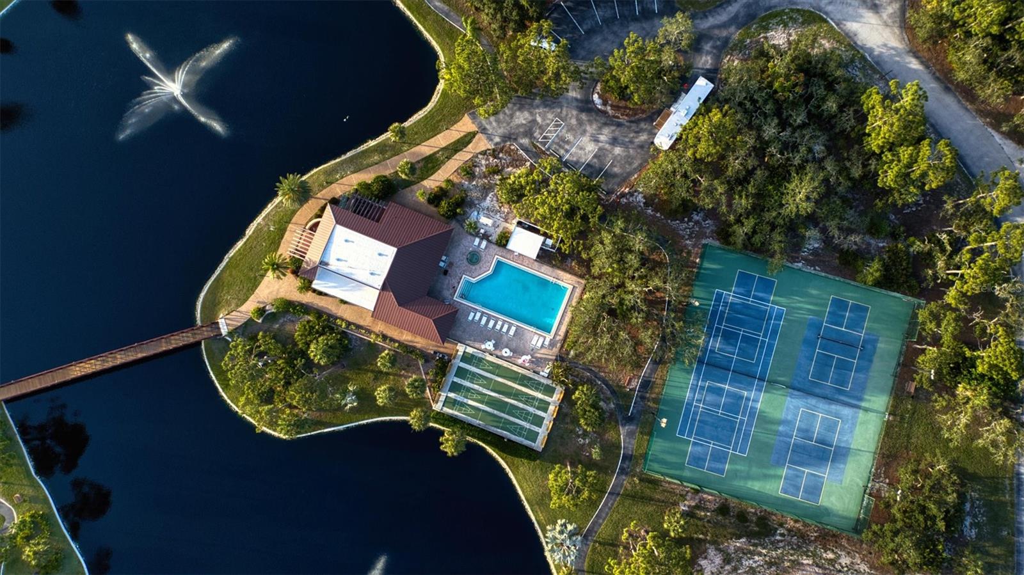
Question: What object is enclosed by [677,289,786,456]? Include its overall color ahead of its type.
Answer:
blue tennis court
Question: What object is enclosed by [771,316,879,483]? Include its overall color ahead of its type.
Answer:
blue tennis court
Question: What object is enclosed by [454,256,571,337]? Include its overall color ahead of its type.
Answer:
blue swimming pool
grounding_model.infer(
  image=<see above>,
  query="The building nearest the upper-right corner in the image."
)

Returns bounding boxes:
[506,226,544,259]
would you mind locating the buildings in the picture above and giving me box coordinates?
[506,226,544,259]
[299,202,458,345]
